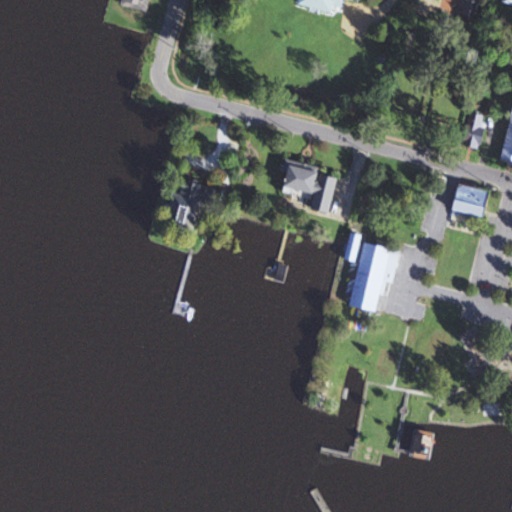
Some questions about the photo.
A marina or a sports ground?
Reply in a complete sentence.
What you see here is a marina.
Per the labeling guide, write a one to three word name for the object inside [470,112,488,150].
house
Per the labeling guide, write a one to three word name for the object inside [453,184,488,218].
building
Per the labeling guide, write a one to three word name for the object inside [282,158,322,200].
house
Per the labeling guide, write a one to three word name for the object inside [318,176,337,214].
building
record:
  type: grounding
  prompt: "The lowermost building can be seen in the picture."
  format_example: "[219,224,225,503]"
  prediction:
[409,430,436,460]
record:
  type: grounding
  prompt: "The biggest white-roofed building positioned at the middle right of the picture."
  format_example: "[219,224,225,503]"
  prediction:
[350,242,400,313]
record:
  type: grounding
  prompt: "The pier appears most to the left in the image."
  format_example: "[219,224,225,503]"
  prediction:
[172,253,192,317]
